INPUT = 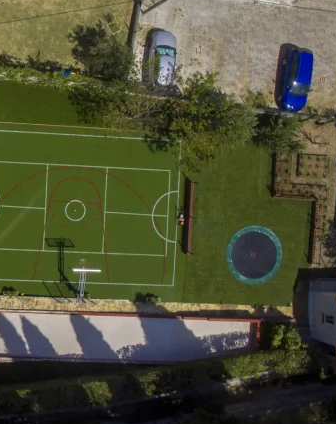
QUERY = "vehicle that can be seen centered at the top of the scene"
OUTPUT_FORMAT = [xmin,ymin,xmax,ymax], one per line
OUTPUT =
[146,26,183,88]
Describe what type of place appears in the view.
sports ground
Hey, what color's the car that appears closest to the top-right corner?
blue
